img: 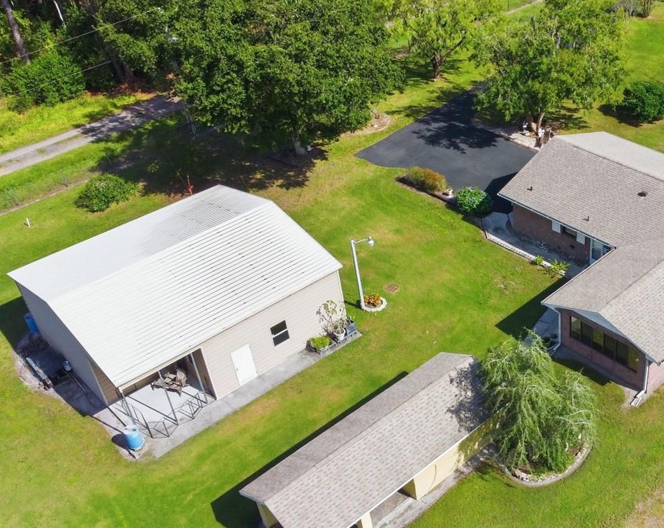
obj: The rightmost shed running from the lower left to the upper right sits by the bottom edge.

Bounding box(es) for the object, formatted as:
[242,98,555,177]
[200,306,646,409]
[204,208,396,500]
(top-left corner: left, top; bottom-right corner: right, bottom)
[239,355,511,528]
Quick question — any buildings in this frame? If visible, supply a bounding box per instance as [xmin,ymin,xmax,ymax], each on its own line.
[4,182,352,436]
[239,355,511,528]
[497,132,664,407]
